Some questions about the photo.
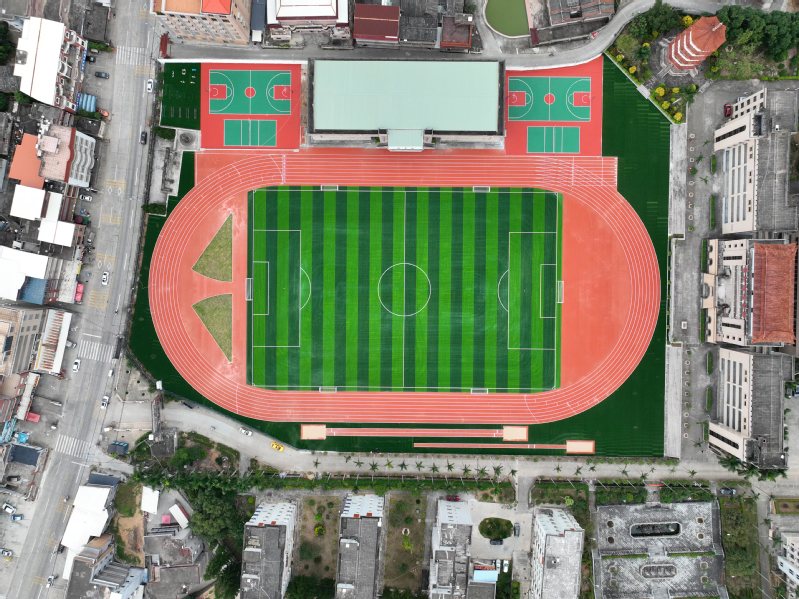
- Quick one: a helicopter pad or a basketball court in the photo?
basketball court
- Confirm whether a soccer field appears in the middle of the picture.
Yes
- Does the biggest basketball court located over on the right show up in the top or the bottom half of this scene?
top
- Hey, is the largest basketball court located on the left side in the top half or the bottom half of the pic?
top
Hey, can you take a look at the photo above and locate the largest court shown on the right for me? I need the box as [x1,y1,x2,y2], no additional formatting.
[506,55,604,155]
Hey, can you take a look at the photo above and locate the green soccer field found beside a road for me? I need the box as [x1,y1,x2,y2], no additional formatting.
[247,185,563,393]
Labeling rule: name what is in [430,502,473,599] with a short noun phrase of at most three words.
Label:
building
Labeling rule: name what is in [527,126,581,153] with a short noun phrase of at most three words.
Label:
sports court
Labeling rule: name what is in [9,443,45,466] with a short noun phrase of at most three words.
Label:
shed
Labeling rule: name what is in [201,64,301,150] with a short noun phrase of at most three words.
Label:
basketball court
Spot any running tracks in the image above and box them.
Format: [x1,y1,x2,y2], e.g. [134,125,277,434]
[148,146,661,424]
